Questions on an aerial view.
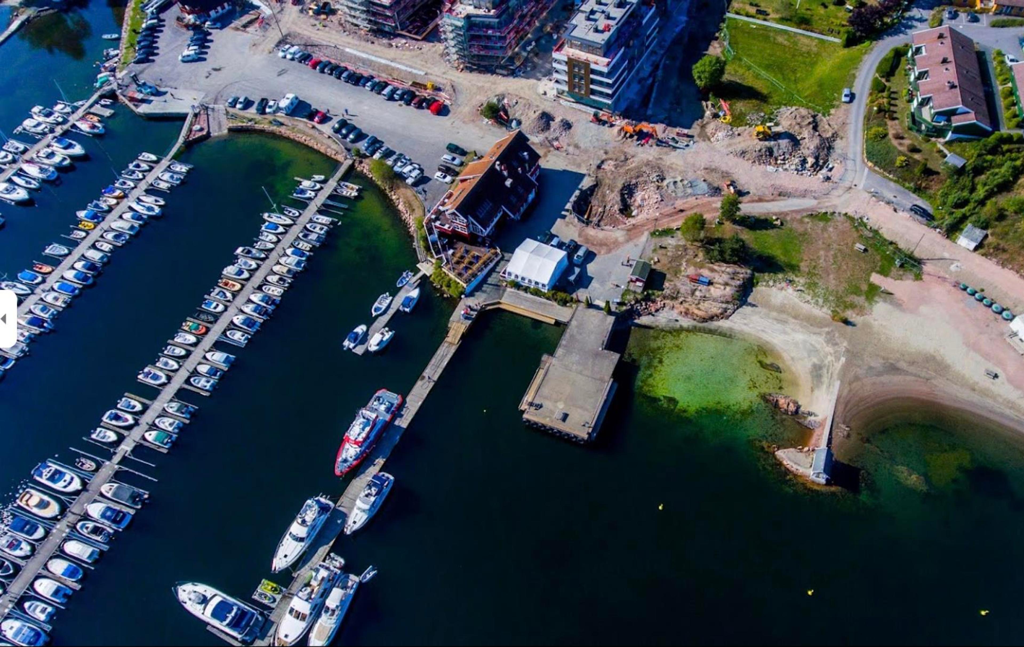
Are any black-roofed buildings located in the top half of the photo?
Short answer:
Yes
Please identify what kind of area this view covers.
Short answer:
port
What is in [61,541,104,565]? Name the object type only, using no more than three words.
boat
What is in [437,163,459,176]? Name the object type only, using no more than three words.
vehicle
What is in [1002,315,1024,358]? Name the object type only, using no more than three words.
tent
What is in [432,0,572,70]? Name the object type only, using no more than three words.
building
